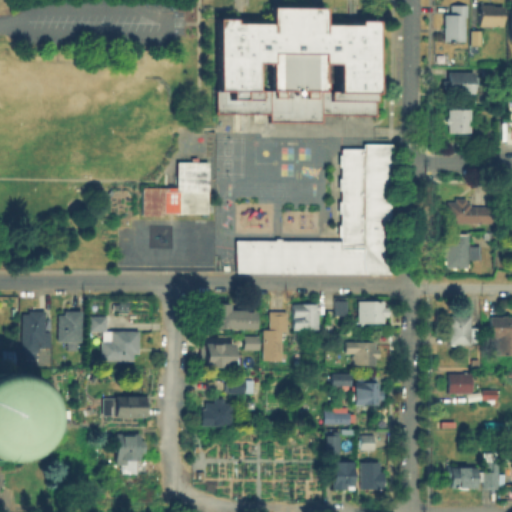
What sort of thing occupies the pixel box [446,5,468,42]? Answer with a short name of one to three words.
house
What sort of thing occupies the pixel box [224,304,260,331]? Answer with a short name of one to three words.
house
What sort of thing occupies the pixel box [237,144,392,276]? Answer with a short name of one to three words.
building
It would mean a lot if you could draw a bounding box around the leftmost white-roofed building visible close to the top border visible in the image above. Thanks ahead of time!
[218,8,384,122]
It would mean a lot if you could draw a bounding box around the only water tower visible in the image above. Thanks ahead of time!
[0,377,66,464]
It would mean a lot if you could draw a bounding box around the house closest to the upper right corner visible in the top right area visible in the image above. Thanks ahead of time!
[482,3,509,27]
